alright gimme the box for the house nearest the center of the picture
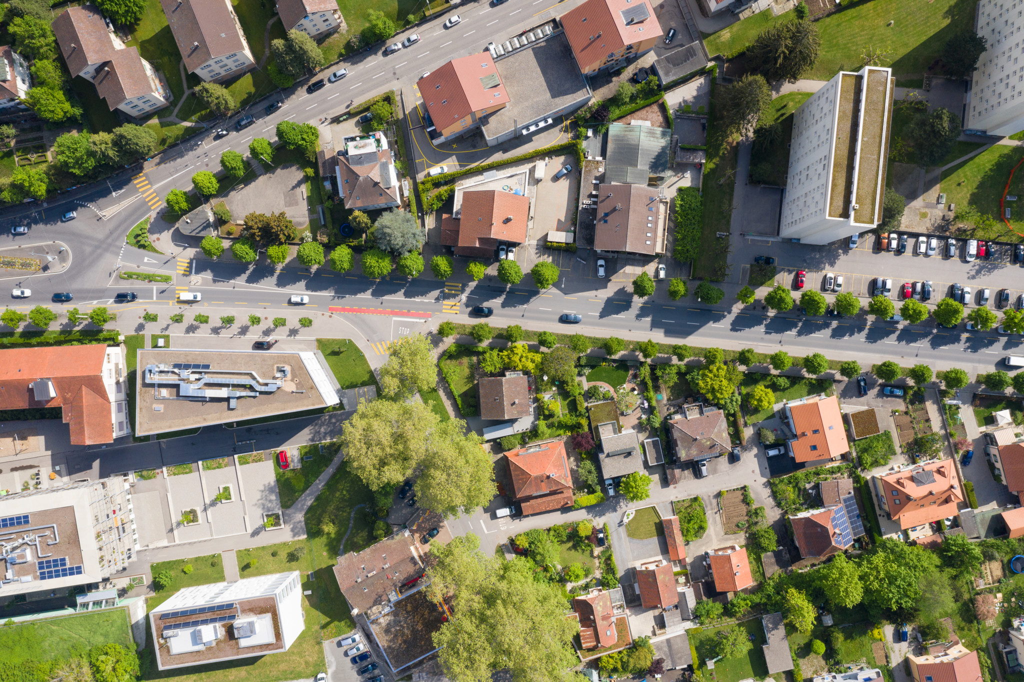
[479,373,530,420]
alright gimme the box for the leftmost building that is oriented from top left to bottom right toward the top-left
[51,4,166,118]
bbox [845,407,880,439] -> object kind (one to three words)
building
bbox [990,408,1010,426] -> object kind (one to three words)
gazebo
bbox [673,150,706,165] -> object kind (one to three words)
shed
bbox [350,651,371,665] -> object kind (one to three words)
car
